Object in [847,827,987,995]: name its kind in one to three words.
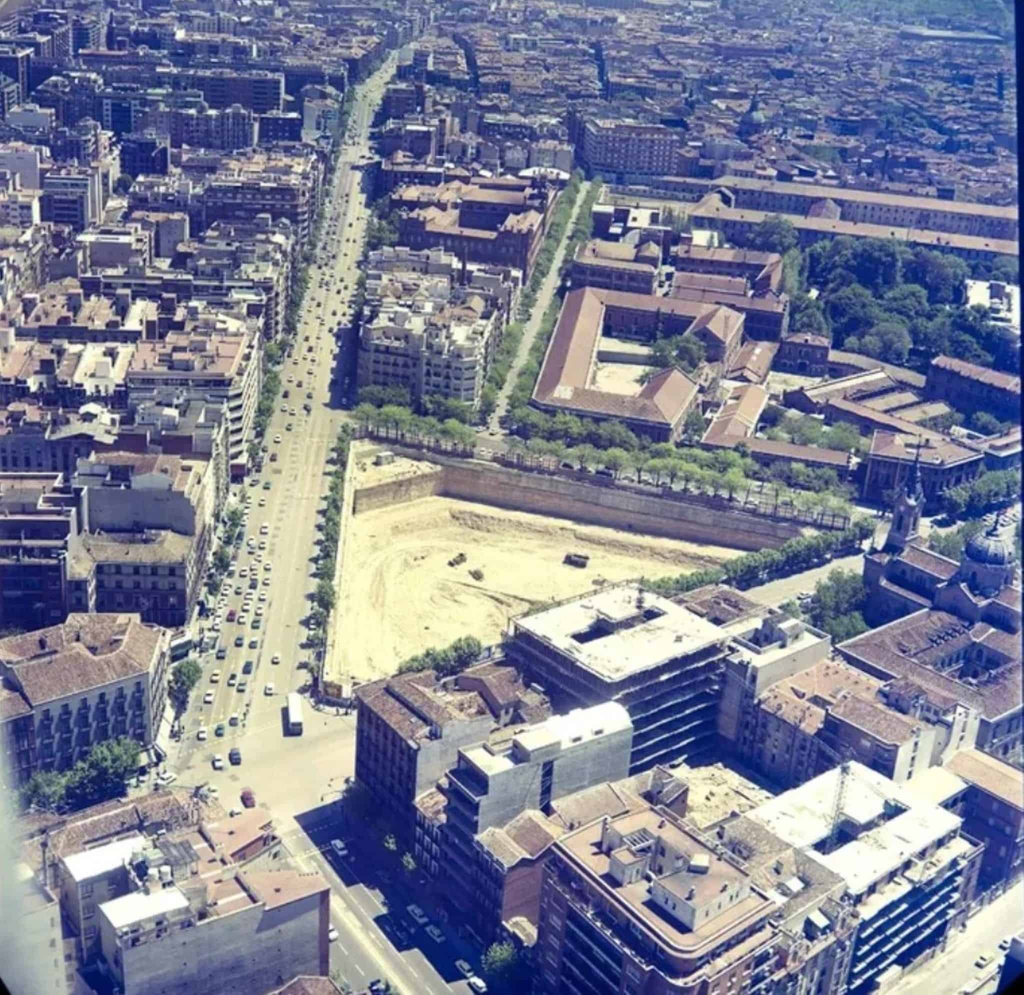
building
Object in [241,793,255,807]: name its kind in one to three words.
car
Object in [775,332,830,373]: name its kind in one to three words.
house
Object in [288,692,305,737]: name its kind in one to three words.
vehicle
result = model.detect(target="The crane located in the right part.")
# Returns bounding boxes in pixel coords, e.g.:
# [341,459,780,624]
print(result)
[823,749,882,811]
